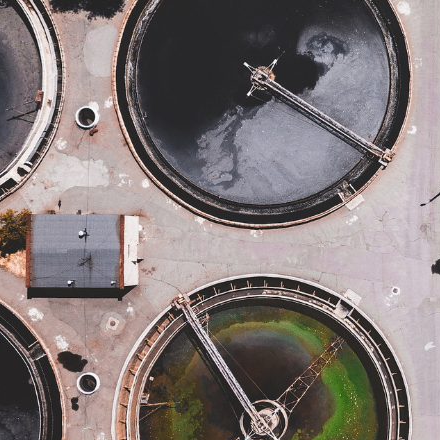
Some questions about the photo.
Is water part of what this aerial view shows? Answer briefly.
Yes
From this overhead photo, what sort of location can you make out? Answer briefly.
industrial area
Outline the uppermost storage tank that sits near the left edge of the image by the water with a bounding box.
[0,0,65,199]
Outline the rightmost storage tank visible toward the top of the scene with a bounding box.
[113,0,410,227]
